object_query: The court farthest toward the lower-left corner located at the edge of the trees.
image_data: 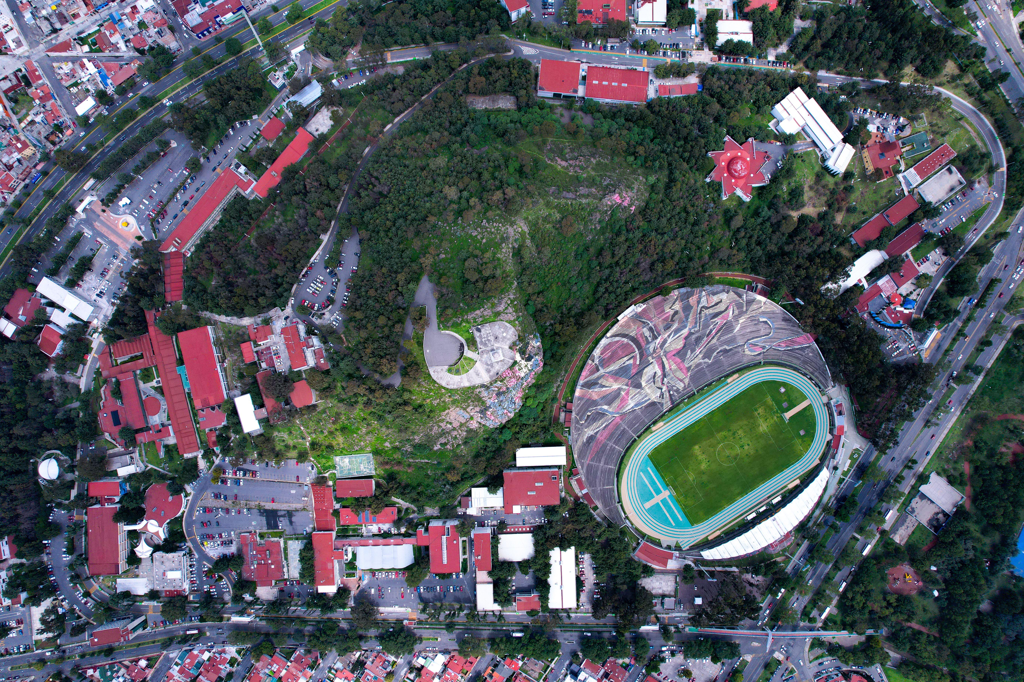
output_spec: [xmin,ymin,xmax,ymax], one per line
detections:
[288,540,307,578]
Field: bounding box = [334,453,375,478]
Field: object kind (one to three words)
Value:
basketball court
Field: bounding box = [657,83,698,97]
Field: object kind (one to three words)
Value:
building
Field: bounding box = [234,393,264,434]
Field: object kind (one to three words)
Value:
building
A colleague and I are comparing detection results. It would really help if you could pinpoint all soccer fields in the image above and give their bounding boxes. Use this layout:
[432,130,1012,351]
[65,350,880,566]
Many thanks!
[638,380,817,529]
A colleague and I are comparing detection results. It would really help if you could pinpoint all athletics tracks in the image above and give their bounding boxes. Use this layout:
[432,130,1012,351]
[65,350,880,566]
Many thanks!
[621,369,829,540]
